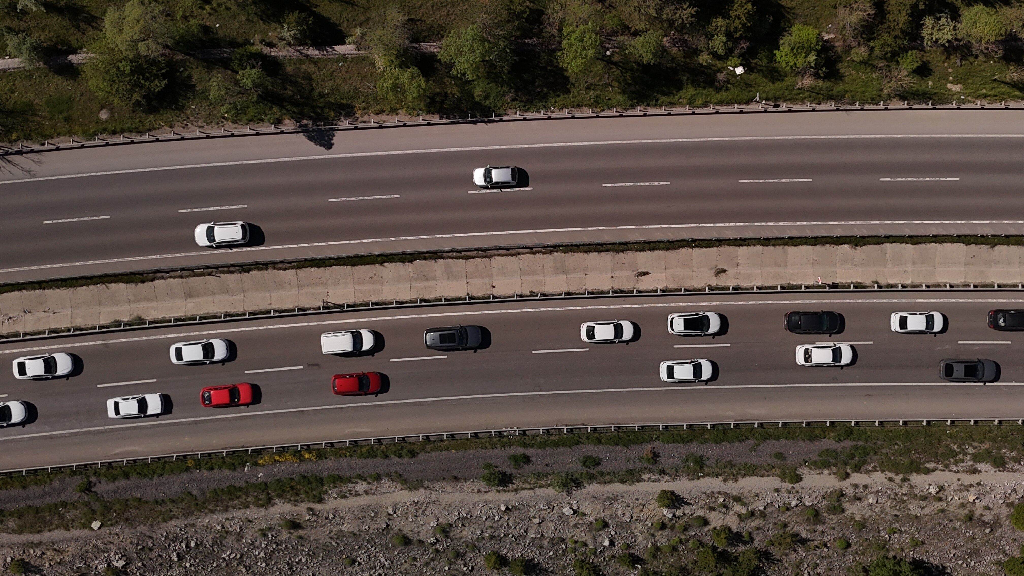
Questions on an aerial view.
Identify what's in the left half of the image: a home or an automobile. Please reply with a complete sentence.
The feature located in the left half of the image is an automobile.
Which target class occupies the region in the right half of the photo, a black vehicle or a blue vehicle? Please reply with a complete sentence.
Visible in the right half of the photo is a black vehicle.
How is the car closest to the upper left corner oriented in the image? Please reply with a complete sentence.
In this picture, the car closest to the upper left corner lies from side to side.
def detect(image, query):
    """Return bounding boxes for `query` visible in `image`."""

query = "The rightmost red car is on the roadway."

[332,371,381,396]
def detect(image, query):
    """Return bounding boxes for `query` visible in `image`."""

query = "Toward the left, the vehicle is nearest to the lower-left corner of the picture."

[0,399,29,426]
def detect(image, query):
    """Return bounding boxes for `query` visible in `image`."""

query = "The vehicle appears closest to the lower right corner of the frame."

[938,357,995,384]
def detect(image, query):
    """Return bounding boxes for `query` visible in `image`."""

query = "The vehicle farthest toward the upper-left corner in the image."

[195,220,250,247]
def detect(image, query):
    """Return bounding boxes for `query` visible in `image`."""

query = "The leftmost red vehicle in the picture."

[201,382,254,408]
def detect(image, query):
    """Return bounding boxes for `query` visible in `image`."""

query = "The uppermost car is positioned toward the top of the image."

[473,164,518,189]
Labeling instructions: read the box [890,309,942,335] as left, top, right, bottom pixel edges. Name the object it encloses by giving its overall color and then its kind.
white car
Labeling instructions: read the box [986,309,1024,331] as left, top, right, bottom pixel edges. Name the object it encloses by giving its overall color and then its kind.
black car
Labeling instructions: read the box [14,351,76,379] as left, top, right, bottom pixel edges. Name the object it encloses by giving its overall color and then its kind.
white car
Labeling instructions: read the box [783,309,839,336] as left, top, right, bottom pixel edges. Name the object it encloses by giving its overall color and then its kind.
black car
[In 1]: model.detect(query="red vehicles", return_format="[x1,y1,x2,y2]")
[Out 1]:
[332,371,381,396]
[201,382,254,408]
